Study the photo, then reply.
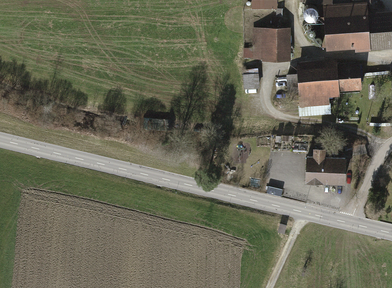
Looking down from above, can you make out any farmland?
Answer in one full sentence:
Yes, there's farmland in this view.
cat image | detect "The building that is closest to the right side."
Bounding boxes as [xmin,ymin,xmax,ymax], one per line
[370,8,392,50]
